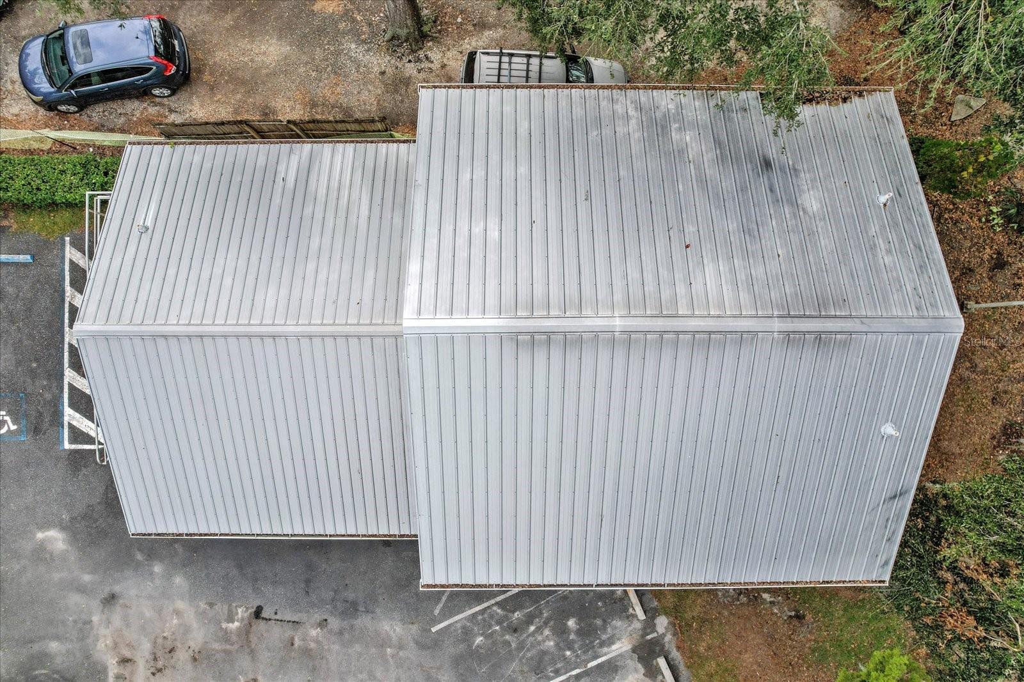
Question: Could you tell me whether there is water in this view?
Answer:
No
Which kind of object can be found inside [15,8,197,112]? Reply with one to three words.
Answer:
car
